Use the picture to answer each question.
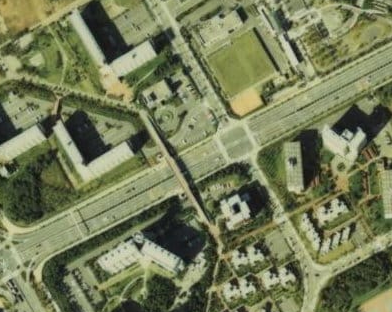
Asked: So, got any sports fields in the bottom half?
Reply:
No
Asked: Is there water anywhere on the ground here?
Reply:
No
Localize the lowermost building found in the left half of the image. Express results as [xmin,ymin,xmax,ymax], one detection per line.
[97,234,185,274]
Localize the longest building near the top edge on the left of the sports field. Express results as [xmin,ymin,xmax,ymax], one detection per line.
[70,10,157,78]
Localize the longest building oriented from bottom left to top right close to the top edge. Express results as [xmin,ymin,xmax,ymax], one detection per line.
[198,11,244,46]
